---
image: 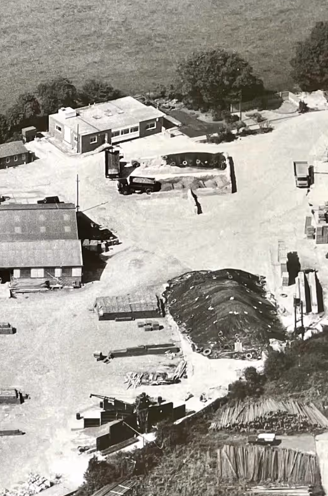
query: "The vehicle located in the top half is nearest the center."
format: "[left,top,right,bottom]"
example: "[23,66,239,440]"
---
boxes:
[120,173,164,193]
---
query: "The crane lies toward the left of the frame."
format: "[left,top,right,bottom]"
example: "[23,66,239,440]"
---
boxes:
[93,389,154,422]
